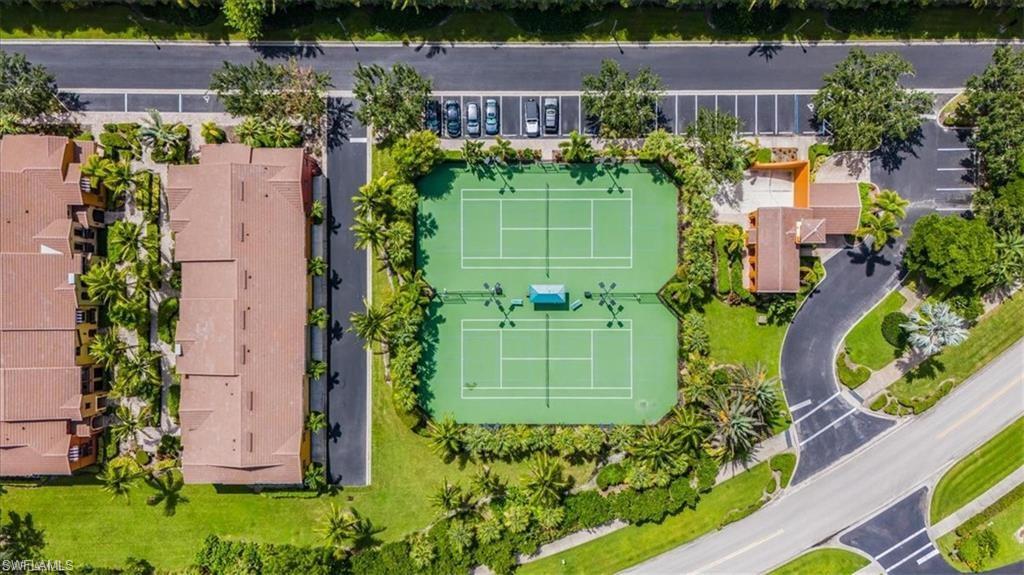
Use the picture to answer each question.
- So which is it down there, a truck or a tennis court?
tennis court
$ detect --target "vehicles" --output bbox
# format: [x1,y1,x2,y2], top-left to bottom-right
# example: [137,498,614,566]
[484,99,500,134]
[465,102,480,134]
[444,99,460,135]
[524,98,541,134]
[424,99,440,133]
[544,98,560,133]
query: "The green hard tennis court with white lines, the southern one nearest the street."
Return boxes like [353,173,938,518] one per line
[417,293,678,425]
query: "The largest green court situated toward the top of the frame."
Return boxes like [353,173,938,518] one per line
[417,163,678,293]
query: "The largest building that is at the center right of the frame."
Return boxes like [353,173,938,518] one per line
[746,162,865,294]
